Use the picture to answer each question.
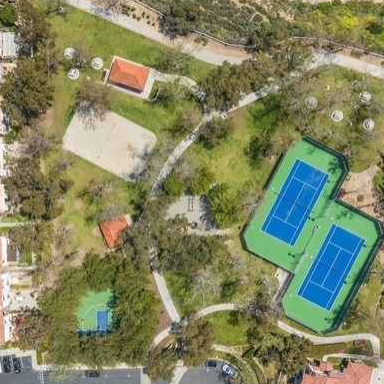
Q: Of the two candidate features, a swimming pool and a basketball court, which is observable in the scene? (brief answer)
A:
basketball court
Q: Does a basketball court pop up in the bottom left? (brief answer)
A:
Yes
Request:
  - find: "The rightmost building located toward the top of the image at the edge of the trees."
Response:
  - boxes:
[109,58,149,91]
